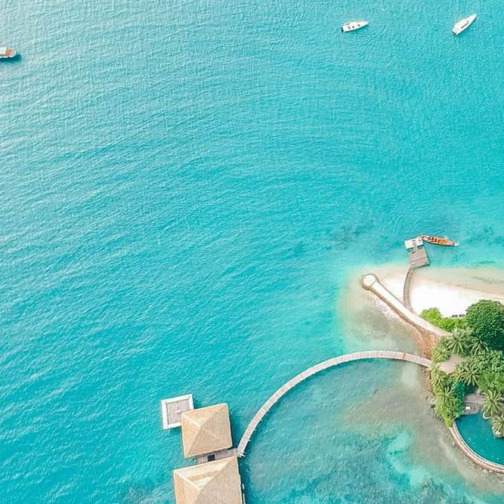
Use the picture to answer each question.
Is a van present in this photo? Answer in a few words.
No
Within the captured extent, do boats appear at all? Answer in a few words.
Yes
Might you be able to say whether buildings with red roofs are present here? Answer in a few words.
No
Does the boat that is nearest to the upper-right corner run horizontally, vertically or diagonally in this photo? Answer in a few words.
diagonally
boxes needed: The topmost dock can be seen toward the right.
[404,236,430,268]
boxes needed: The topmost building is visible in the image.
[179,402,234,458]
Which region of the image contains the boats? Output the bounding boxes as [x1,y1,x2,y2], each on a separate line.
[0,47,17,58]
[419,234,460,246]
[450,13,476,38]
[340,21,366,32]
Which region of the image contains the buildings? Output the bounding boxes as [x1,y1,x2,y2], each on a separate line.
[172,456,243,504]
[179,402,234,458]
